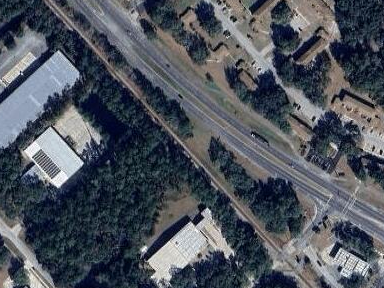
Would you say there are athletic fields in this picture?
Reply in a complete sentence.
No, no athletic field is visible in the scene.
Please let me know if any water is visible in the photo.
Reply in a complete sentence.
No, water can't be seen anywhere here.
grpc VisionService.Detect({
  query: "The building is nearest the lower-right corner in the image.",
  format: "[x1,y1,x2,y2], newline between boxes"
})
[332,248,370,280]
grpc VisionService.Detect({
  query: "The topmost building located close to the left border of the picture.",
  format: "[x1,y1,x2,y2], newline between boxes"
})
[0,50,81,146]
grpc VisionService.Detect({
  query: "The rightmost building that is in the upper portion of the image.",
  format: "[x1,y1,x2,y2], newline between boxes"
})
[335,90,377,121]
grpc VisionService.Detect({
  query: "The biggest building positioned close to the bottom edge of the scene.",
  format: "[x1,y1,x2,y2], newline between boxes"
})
[149,222,212,283]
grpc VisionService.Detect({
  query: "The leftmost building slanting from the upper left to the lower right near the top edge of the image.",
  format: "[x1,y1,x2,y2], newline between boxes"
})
[181,7,212,42]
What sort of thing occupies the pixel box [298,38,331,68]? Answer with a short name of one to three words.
building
